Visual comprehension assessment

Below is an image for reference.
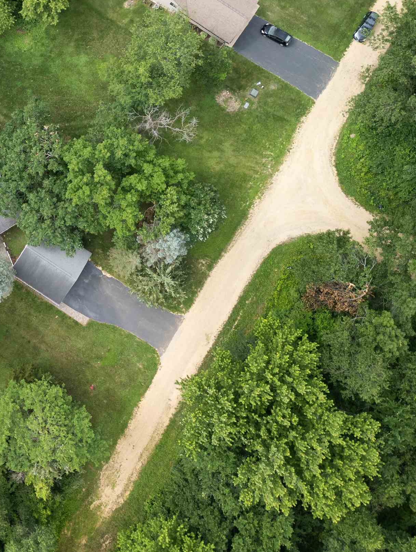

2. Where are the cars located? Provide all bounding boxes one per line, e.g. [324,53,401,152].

[261,25,293,45]
[353,11,379,43]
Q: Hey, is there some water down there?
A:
No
